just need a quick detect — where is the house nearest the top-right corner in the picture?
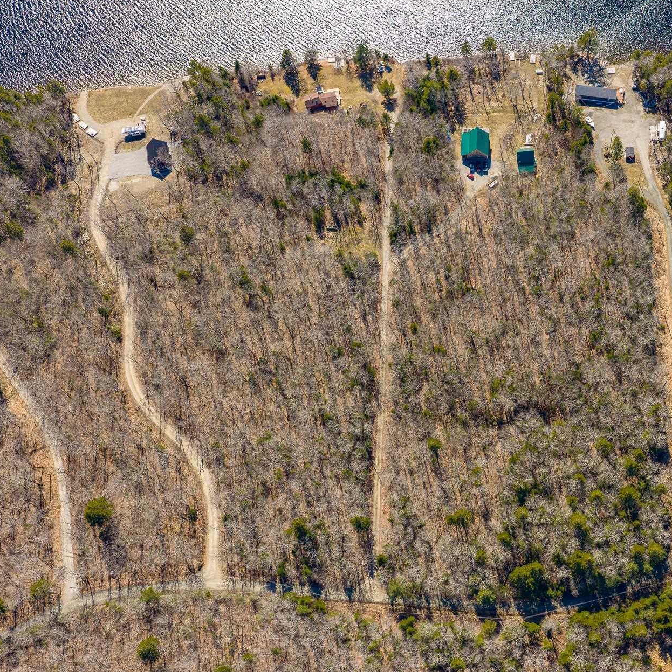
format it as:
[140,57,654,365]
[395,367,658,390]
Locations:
[575,85,625,106]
